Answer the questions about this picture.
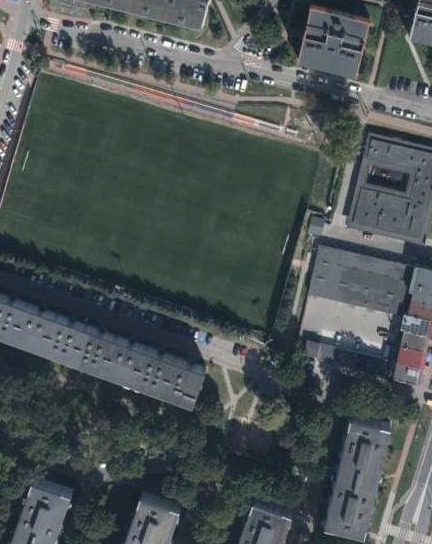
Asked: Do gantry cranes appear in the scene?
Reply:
No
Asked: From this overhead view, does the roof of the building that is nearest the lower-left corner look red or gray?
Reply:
gray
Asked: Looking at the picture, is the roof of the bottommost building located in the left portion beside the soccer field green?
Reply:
No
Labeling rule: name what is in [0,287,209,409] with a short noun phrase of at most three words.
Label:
building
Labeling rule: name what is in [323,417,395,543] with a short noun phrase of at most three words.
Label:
building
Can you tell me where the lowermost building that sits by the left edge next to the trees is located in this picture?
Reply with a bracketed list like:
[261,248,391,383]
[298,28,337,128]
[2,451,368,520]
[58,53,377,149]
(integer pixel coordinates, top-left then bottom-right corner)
[10,477,73,544]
